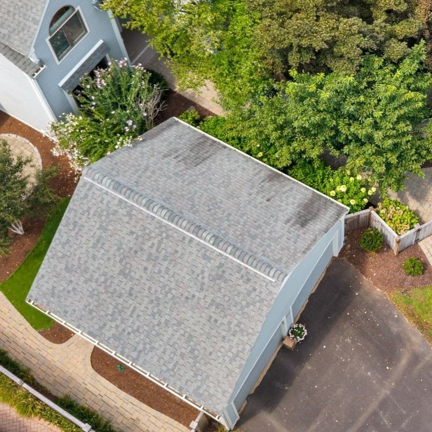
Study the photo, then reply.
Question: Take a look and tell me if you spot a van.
No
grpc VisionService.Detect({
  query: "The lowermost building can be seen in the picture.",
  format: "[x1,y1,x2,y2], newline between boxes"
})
[24,114,352,431]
